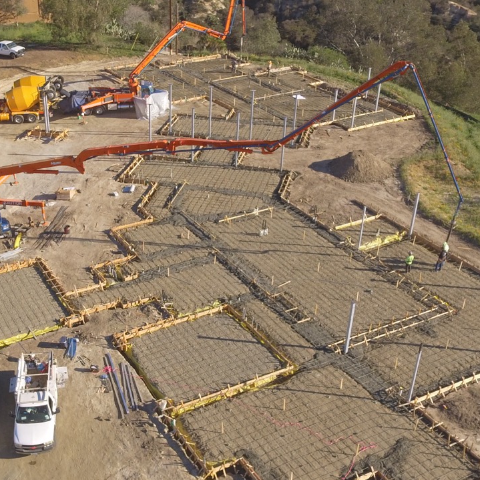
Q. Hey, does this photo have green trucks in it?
No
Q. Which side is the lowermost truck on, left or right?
left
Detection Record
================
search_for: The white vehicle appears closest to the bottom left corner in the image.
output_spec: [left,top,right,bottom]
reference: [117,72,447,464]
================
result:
[4,343,68,449]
